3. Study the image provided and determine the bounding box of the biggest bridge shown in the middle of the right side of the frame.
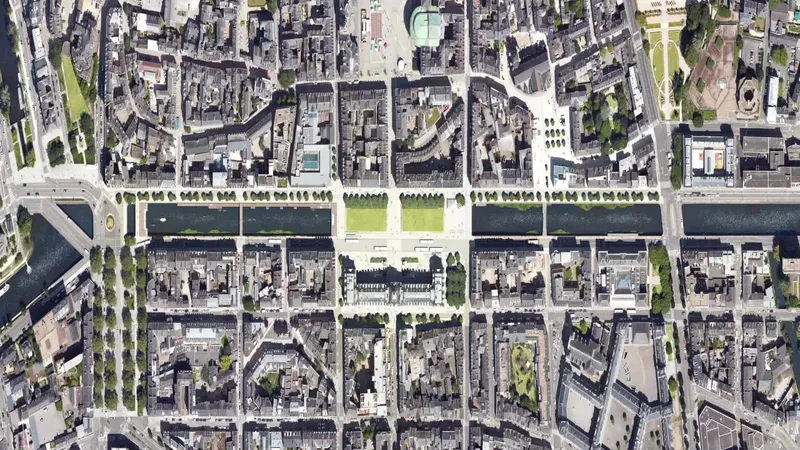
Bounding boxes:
[661,203,684,238]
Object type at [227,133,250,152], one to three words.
house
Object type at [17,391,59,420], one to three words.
house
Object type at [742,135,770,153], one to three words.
building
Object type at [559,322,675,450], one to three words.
building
